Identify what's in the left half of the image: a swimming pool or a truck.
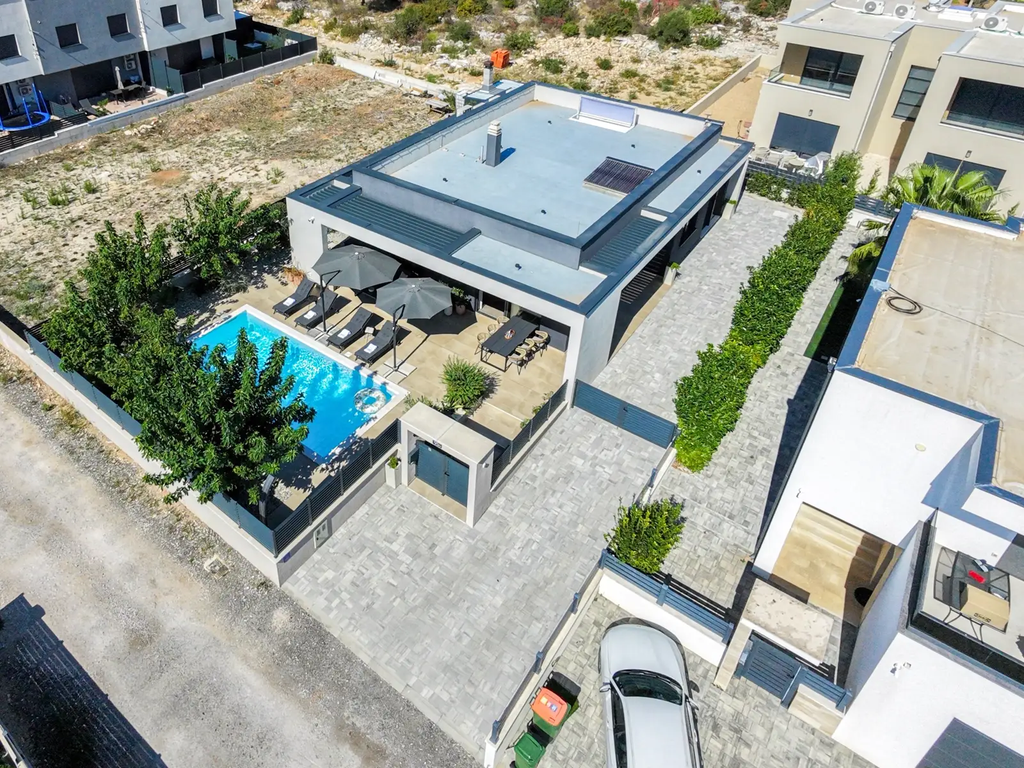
swimming pool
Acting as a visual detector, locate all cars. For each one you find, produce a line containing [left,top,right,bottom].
[602,627,705,768]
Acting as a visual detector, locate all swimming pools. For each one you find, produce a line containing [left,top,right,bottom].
[158,307,409,464]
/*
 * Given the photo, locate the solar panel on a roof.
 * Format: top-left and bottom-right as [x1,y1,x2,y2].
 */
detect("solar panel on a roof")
[577,154,659,201]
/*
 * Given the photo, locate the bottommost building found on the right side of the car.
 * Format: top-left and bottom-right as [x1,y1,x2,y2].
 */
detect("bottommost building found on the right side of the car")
[742,202,1024,768]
